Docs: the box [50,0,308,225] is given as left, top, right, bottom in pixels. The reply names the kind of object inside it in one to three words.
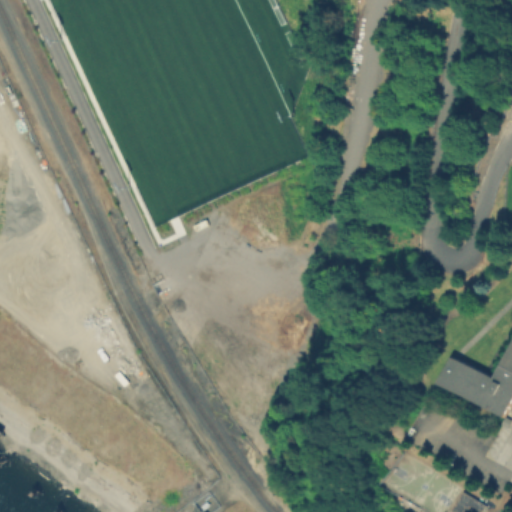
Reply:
sports field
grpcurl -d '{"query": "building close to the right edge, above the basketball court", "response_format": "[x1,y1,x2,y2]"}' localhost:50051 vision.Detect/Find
[435,344,512,422]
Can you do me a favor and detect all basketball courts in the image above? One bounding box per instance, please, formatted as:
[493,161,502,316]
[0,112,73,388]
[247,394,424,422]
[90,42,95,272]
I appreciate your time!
[387,454,464,512]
